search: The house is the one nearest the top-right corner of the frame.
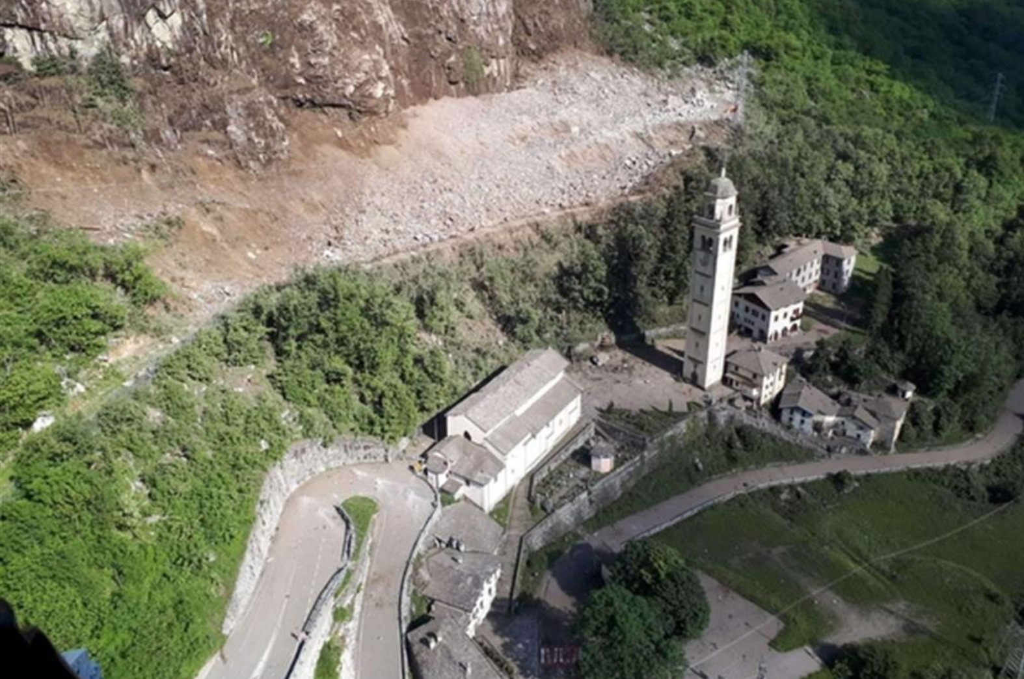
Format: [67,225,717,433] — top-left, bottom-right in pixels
[810,231,862,293]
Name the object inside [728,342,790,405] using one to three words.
house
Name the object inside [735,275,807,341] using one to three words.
house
